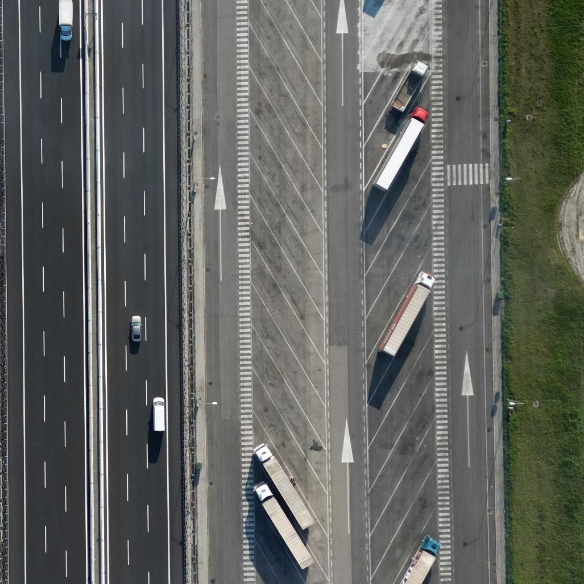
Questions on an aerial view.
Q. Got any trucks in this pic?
Yes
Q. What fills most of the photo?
paved ground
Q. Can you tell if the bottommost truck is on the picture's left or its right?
right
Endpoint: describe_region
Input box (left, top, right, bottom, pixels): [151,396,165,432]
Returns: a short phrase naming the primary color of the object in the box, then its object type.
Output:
white vehicle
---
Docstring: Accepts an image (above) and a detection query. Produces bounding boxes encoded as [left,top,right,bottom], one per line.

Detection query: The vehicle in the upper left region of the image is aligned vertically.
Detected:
[60,0,74,40]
